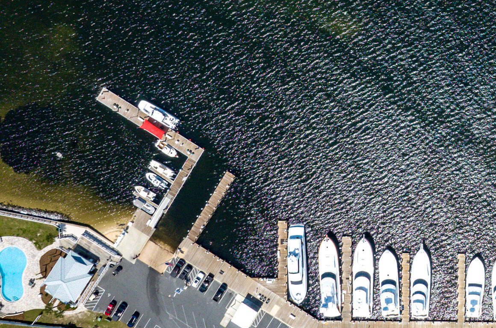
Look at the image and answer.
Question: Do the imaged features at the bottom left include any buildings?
Yes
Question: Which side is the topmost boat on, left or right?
left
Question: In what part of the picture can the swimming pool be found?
bottom left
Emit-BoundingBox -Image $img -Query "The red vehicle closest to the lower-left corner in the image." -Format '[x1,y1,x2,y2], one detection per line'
[105,300,118,317]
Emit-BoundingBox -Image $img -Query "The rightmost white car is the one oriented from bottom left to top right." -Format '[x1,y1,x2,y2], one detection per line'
[192,271,206,288]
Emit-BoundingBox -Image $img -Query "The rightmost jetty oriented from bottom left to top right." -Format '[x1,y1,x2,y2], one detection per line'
[187,171,238,245]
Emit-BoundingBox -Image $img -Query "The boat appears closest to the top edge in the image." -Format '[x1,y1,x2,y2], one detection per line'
[141,103,180,128]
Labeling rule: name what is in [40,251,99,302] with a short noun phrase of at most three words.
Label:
building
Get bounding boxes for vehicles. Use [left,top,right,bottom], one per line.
[192,271,206,288]
[171,259,186,278]
[179,262,194,282]
[111,267,123,278]
[200,274,215,292]
[113,302,127,322]
[105,300,118,317]
[213,283,228,303]
[128,311,141,328]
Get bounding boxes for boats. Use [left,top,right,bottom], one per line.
[151,161,179,179]
[135,187,158,201]
[157,141,179,158]
[146,173,170,190]
[411,245,431,321]
[287,225,307,303]
[129,197,156,215]
[353,235,375,319]
[320,234,343,319]
[141,103,180,128]
[466,256,486,318]
[380,250,401,318]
